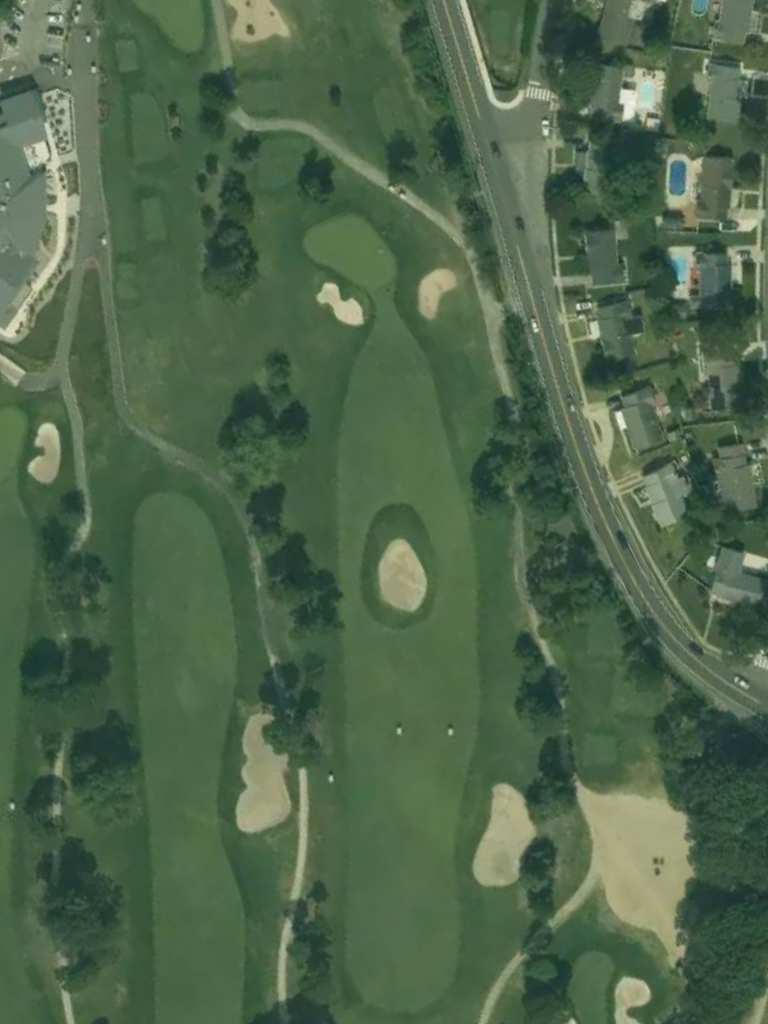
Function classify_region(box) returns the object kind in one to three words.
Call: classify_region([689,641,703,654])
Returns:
vehicle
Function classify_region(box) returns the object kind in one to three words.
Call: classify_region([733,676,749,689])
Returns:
vehicle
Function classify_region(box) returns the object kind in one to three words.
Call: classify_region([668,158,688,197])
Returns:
swimming pool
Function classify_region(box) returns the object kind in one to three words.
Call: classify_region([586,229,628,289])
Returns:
house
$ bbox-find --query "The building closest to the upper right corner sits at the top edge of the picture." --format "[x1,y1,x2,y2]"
[710,0,754,43]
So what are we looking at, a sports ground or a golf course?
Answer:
golf course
